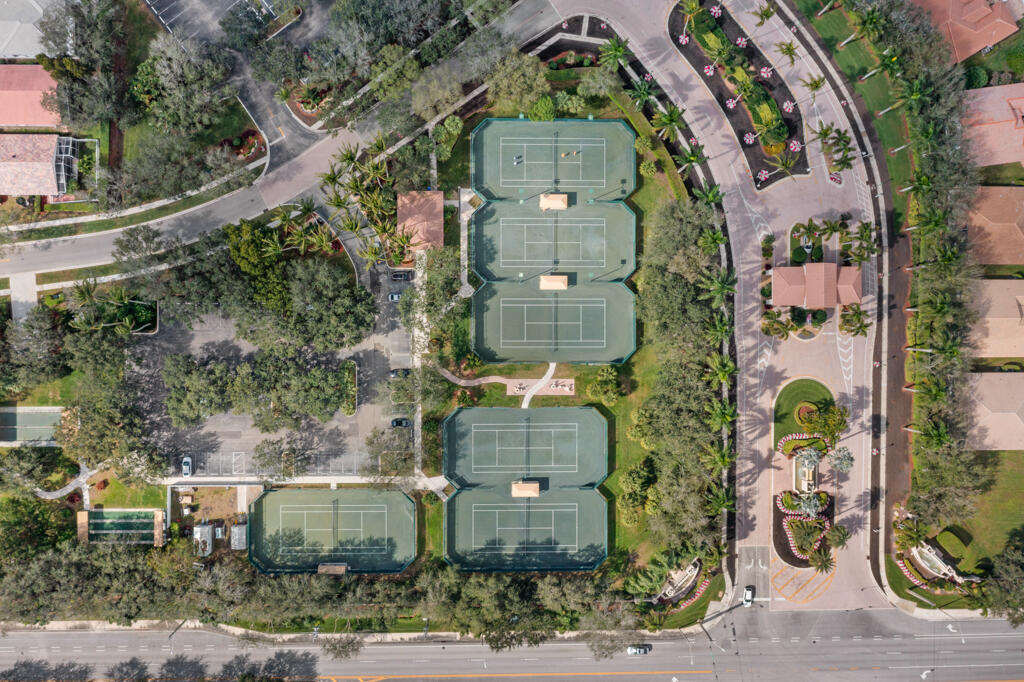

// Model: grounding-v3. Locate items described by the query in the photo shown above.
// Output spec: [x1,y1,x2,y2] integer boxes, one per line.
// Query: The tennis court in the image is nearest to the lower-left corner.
[252,489,415,569]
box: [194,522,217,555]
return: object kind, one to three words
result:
shed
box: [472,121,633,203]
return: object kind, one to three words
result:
tennis court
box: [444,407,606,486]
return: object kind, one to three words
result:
tennis court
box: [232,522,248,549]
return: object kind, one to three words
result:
shed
